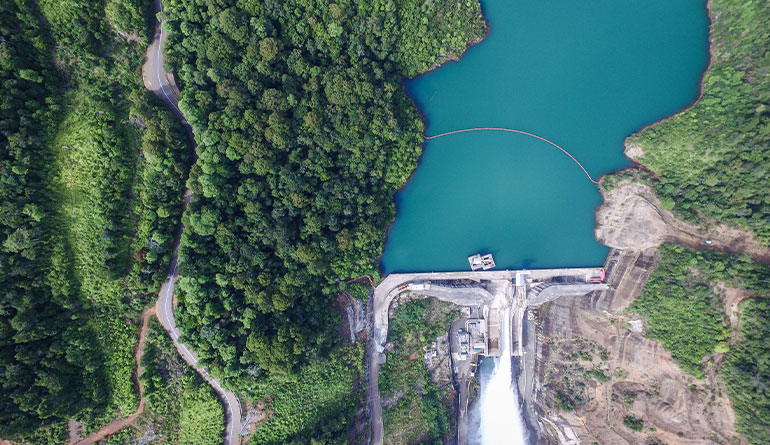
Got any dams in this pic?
Yes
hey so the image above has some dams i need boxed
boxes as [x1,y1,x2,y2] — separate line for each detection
[372,266,611,359]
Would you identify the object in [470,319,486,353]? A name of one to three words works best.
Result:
building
